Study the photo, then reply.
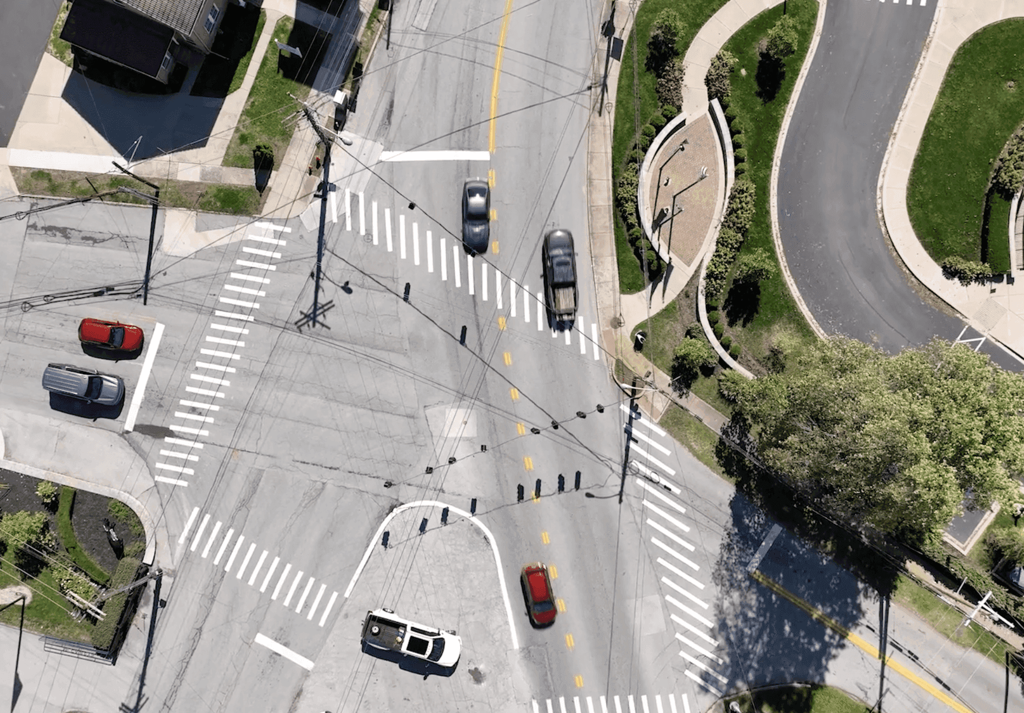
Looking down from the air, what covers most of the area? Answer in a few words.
paved ground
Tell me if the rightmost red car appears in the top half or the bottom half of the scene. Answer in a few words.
bottom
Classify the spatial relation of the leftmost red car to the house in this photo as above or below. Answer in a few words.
below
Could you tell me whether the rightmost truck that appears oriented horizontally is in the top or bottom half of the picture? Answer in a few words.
bottom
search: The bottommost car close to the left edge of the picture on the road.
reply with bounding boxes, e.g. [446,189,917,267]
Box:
[40,361,126,407]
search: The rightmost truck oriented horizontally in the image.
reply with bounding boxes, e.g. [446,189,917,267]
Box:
[362,615,462,671]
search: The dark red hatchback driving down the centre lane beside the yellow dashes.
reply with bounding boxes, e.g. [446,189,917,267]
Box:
[520,559,558,626]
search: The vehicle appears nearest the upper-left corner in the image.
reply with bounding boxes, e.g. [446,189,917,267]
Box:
[75,316,145,355]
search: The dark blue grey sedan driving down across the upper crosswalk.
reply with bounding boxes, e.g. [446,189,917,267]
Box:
[457,179,495,254]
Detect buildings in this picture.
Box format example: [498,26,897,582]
[55,0,232,82]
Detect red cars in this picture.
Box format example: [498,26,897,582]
[75,316,145,355]
[520,559,558,626]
